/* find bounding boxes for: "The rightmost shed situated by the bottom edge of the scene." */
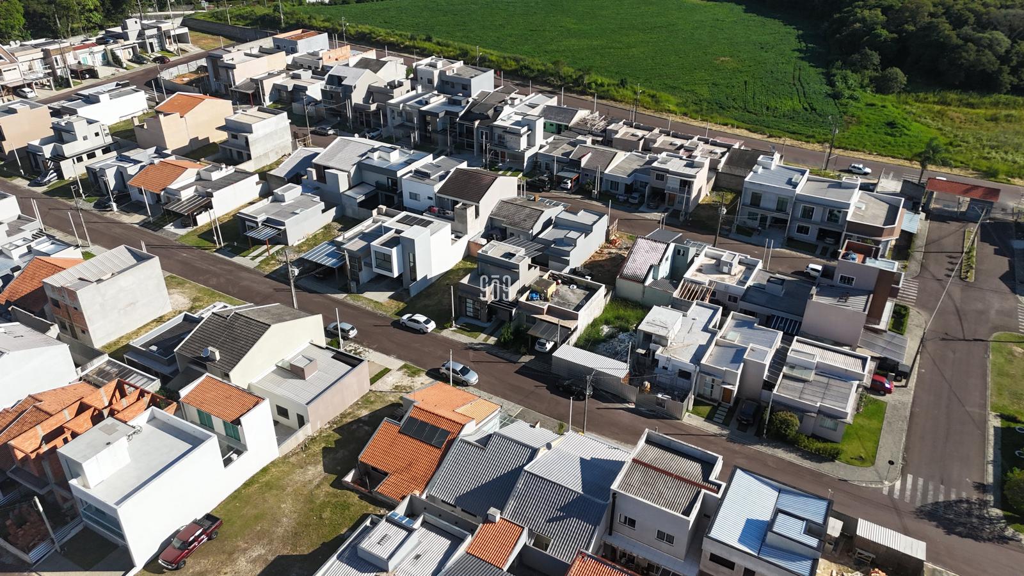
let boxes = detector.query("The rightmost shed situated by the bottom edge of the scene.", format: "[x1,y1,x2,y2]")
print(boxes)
[851,519,928,576]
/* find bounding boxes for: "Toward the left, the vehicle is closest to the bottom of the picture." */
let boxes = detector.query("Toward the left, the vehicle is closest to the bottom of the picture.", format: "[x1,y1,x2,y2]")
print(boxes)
[156,510,222,566]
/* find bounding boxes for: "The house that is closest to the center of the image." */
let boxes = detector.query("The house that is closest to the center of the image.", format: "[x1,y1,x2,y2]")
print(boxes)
[460,241,548,318]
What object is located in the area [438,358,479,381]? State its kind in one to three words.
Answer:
car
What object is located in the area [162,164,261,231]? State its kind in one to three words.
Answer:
house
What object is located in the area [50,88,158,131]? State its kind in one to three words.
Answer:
house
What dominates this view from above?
buildings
